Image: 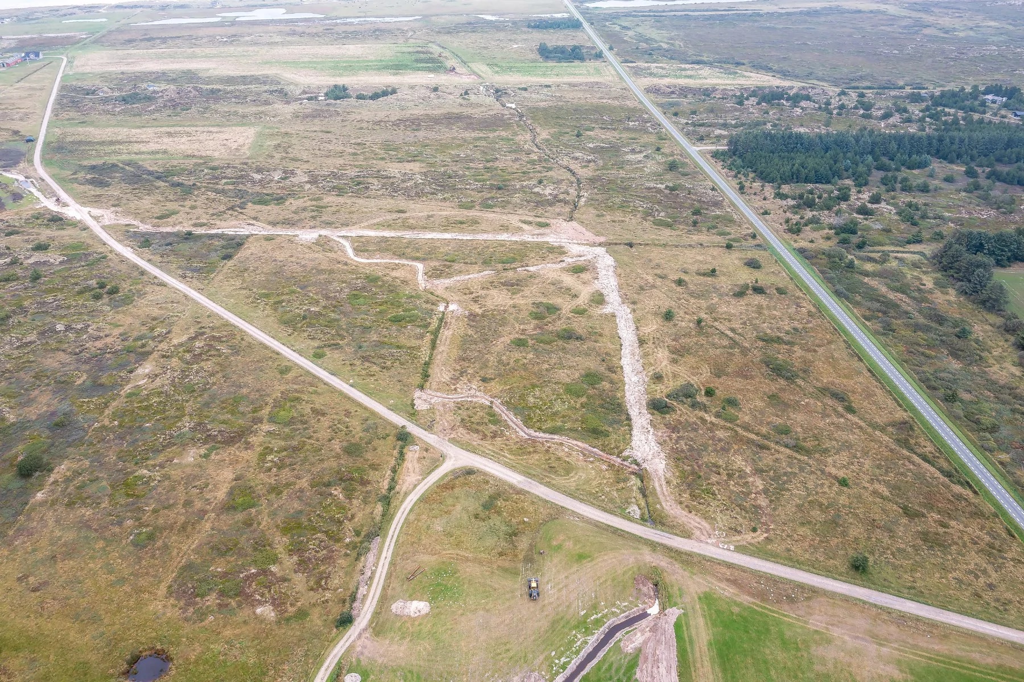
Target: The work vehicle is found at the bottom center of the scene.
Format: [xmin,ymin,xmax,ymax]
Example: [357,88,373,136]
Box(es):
[527,578,539,599]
